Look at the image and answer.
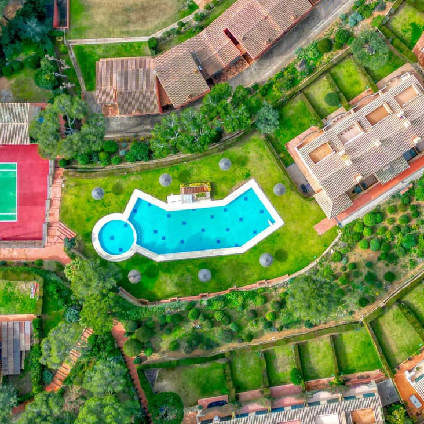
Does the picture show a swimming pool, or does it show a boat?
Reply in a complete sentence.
I can see a swimming pool in this picture.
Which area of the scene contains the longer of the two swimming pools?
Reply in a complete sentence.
The longer of the two swimming pools sits in the center section of the image.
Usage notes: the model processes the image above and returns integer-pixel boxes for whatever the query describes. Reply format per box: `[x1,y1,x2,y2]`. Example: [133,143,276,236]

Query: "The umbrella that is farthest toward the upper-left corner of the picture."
[91,187,105,200]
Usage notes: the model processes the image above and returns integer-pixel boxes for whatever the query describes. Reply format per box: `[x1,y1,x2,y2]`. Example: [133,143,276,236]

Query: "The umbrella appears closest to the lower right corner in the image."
[260,253,273,266]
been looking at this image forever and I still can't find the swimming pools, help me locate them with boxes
[123,178,284,262]
[91,213,137,262]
